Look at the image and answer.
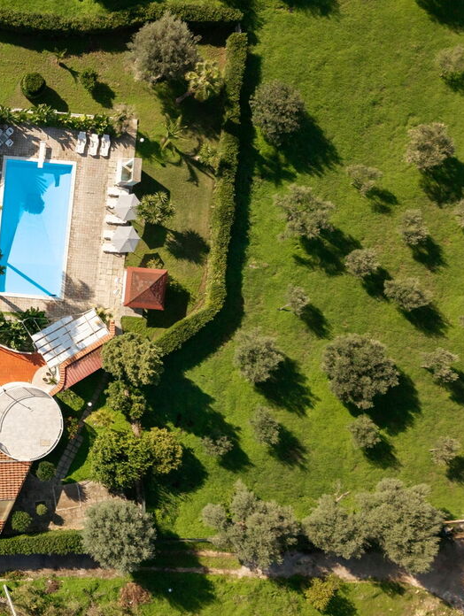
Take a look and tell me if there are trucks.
No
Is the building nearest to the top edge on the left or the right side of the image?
left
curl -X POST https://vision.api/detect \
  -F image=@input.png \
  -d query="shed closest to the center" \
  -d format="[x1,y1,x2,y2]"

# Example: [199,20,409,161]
[118,267,167,310]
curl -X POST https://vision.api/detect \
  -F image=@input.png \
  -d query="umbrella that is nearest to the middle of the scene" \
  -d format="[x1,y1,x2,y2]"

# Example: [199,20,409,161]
[111,227,140,253]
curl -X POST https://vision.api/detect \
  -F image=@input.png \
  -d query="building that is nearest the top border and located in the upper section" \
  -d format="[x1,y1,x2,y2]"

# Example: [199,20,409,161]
[111,158,142,187]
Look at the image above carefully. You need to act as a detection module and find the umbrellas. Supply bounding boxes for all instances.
[111,227,140,253]
[111,194,141,221]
